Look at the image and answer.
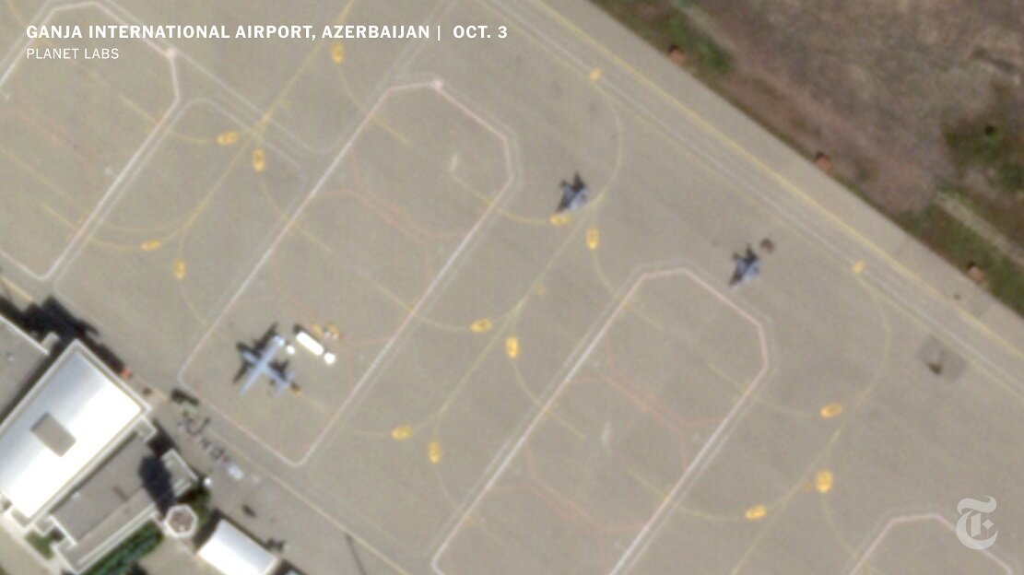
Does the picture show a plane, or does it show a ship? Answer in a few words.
plane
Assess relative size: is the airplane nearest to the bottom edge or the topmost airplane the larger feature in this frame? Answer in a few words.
the airplane nearest to the bottom edge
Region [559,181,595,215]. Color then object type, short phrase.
gray airplane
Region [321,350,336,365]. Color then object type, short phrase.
white vehicle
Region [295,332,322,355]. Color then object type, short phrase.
white truck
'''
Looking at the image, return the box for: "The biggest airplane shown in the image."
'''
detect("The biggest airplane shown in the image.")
[240,338,294,397]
